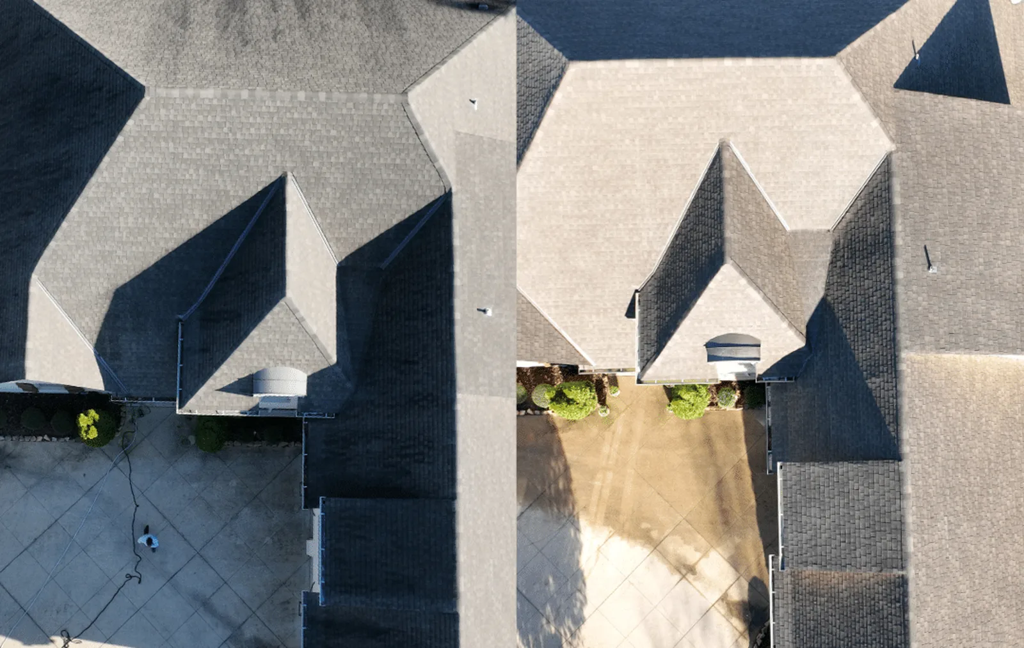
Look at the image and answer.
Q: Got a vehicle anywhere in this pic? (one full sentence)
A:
No, the picture doesn't show any vehicle.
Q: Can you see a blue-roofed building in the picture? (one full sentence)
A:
No, no blue-roofed building can be seen from above.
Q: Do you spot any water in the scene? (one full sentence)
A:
No, no water is visible.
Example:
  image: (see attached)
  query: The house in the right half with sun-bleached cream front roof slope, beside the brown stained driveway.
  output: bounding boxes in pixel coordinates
[516,0,1024,648]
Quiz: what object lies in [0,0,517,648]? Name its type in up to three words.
house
